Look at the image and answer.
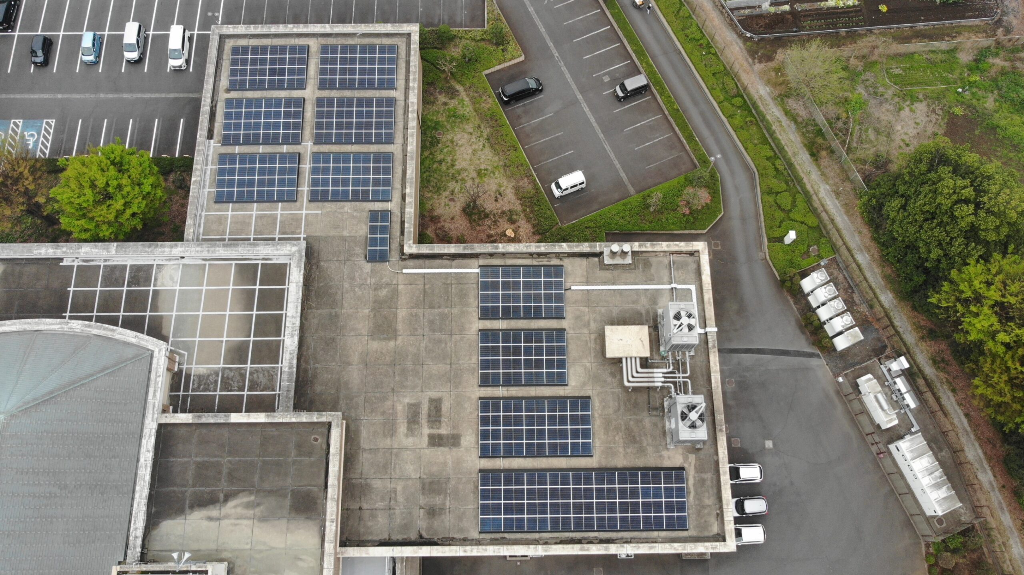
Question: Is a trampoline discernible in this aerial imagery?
No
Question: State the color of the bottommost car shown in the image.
white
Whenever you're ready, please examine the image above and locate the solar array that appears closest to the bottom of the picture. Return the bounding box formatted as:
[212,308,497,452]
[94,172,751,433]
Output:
[479,466,688,533]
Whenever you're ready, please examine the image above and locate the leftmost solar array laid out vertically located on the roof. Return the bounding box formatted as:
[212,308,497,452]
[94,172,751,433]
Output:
[367,212,391,263]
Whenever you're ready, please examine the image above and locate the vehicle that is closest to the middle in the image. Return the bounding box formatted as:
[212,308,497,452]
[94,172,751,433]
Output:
[548,169,588,201]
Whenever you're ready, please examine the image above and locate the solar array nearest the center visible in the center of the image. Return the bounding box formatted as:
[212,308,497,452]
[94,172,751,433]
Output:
[479,267,565,319]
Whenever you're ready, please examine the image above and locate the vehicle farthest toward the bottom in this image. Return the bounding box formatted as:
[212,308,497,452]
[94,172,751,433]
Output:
[733,523,768,547]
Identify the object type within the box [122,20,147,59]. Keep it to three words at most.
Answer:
vehicle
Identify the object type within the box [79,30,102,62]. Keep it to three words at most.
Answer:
car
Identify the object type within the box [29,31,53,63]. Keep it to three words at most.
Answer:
car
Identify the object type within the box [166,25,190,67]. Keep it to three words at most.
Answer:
vehicle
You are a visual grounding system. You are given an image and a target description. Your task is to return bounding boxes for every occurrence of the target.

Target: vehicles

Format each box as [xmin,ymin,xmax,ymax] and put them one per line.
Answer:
[731,495,770,519]
[79,30,102,62]
[728,462,766,486]
[548,169,588,201]
[29,31,53,63]
[499,78,544,107]
[166,25,190,67]
[122,20,147,59]
[733,523,768,547]
[614,73,649,102]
